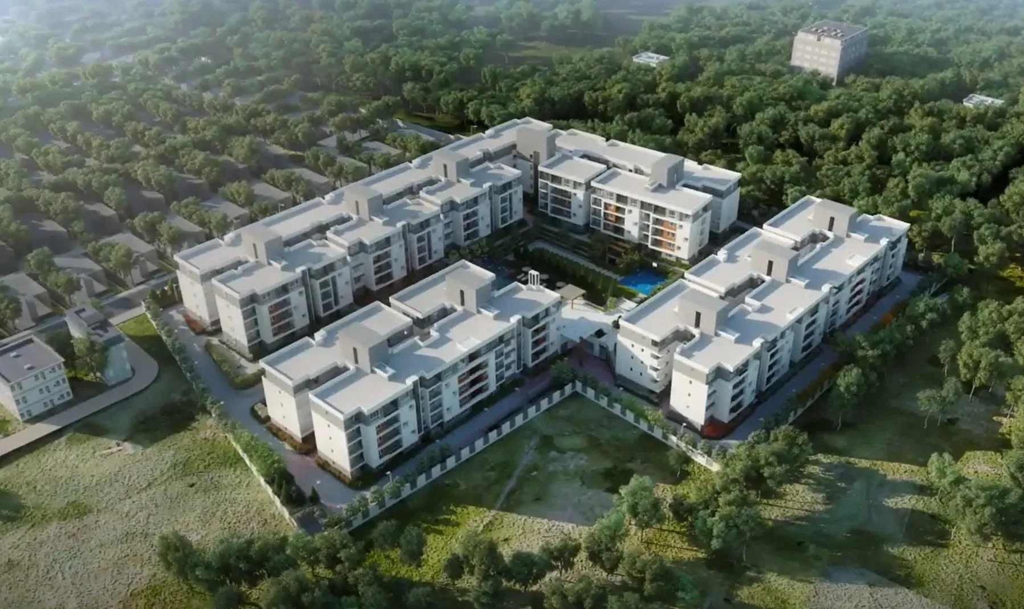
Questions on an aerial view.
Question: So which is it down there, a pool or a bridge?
pool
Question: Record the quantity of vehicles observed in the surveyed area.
0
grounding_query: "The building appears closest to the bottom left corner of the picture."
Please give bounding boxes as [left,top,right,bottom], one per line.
[0,331,75,431]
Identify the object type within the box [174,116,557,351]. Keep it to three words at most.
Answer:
building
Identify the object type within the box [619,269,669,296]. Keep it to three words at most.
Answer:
swimming pool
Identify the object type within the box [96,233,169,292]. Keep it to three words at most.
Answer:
house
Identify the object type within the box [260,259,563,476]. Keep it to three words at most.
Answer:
building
